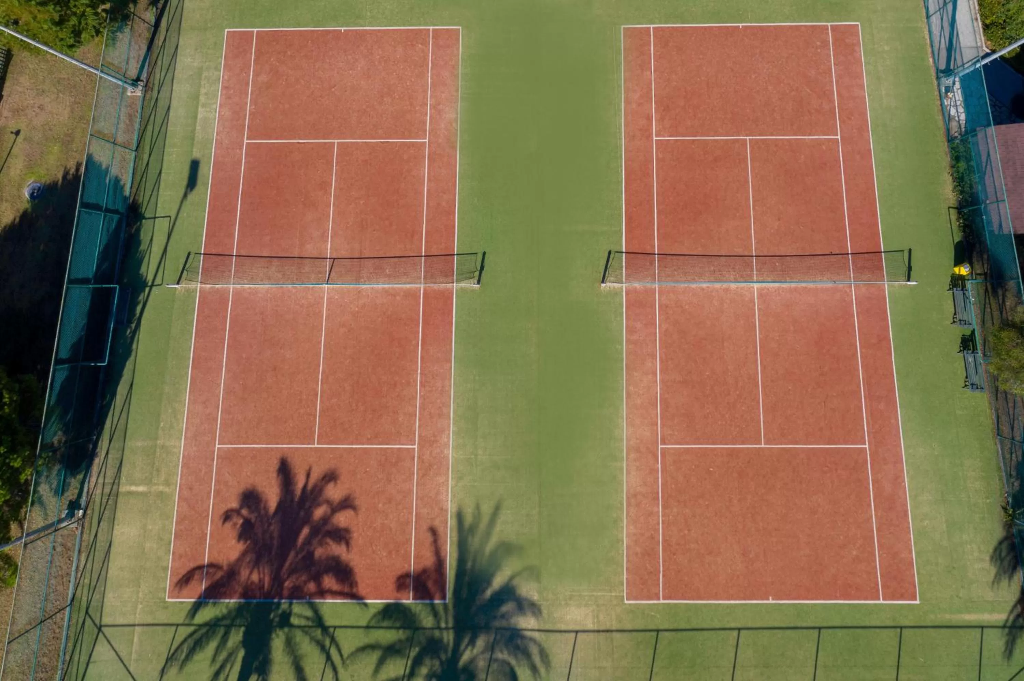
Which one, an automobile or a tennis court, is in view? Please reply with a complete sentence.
Looking from above, you can make out a tennis court.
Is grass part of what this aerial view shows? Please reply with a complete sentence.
Yes, grass shows up in the scene.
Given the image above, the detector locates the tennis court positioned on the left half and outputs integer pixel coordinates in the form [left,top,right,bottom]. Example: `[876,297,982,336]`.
[166,26,461,603]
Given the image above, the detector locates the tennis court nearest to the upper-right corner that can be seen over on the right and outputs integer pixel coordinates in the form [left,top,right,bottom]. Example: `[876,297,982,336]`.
[621,22,920,604]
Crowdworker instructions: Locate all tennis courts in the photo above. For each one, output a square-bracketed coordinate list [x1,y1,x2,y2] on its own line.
[166,26,461,603]
[621,22,920,604]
